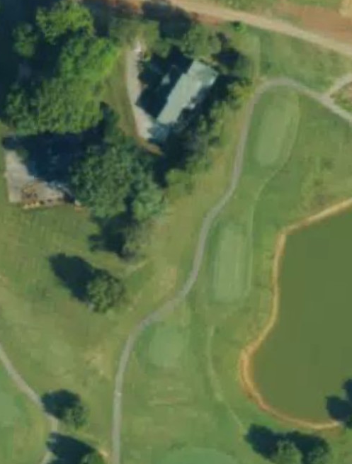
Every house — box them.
[149,56,224,137]
[2,146,73,206]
